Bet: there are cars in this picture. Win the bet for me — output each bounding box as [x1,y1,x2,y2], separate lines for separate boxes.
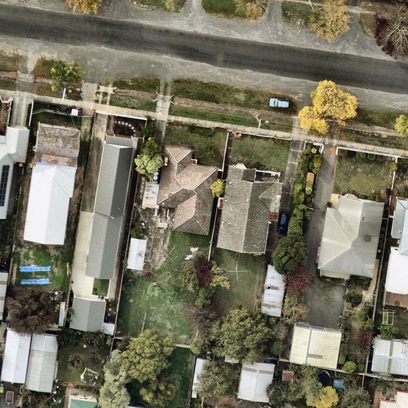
[268,99,290,109]
[277,213,289,235]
